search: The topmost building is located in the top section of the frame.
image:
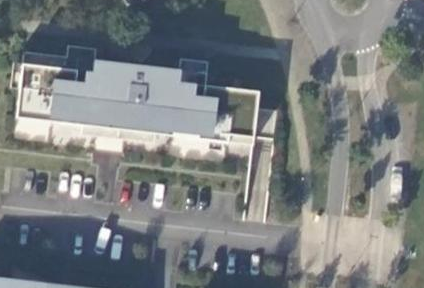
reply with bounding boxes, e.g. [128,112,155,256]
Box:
[10,46,260,158]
